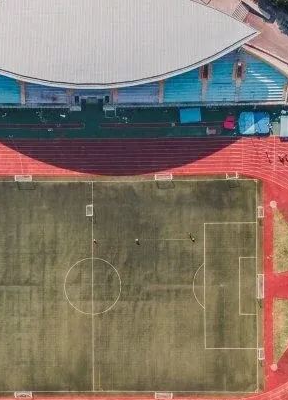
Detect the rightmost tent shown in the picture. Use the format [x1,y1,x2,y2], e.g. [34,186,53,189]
[253,114,269,136]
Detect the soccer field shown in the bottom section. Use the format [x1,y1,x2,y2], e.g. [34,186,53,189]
[0,175,264,399]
